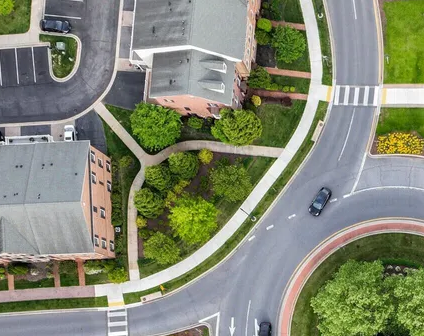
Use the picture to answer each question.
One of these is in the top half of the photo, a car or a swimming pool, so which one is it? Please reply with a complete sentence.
What appears in the top half of the photo is a car.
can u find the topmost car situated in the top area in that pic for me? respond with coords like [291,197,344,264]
[41,17,74,35]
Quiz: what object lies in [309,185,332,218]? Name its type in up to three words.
car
